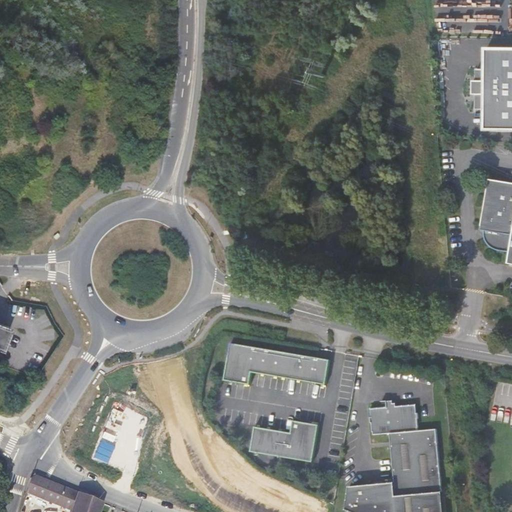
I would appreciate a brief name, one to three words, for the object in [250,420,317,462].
building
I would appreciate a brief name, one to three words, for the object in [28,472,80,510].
house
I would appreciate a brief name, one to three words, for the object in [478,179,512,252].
building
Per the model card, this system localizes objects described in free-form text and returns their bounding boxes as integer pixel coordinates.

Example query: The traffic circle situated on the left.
[69,196,216,342]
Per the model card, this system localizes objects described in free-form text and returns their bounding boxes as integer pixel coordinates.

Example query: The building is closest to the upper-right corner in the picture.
[470,47,512,132]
